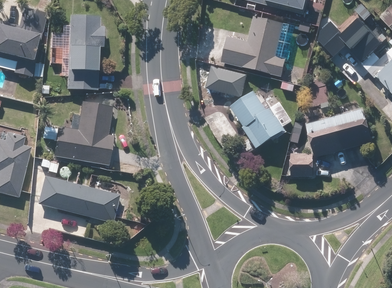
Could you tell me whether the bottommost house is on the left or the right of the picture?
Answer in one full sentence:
The bottommost house appears in the left half of the scene.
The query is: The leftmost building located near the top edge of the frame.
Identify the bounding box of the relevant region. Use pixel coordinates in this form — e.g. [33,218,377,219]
[0,7,46,78]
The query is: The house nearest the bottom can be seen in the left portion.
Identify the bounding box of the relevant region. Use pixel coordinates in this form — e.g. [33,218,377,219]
[39,176,120,221]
